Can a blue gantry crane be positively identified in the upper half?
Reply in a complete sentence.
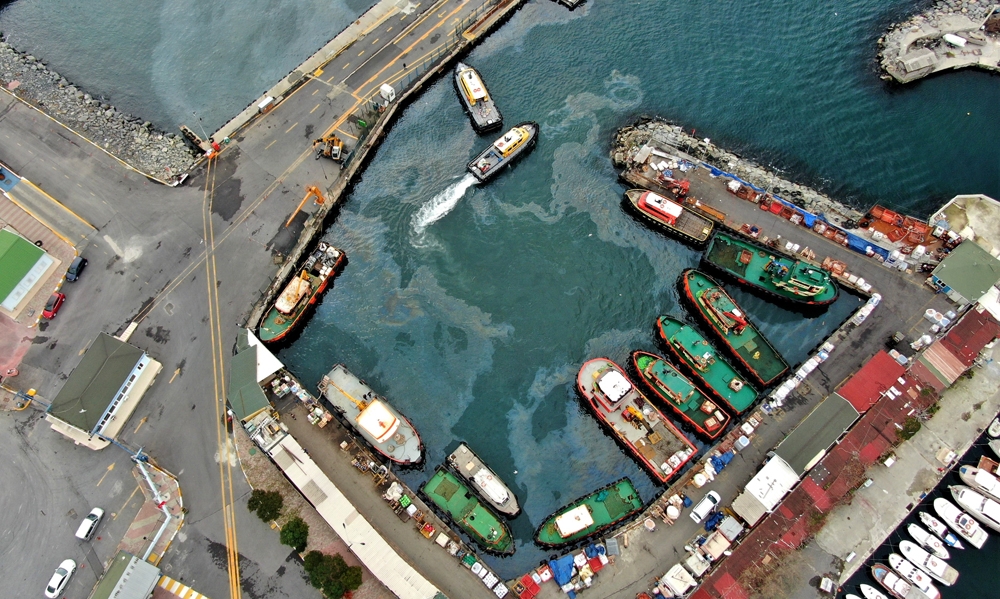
No, I can find no blue gantry crane in the upper half.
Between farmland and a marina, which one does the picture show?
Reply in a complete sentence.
It's a marina.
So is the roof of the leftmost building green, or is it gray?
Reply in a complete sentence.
The roof of the leftmost building looks green in the image.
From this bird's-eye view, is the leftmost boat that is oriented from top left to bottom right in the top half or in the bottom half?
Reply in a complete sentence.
You can find the leftmost boat that is oriented from top left to bottom right in the bottom half.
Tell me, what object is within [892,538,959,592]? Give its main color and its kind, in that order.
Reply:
white boat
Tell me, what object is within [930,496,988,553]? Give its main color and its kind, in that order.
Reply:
white boat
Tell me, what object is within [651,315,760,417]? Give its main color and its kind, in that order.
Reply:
green boat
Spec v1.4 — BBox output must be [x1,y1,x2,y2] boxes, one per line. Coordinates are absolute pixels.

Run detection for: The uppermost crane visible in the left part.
[286,183,328,226]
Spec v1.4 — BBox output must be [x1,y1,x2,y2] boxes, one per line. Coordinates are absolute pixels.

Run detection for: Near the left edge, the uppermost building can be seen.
[0,229,61,321]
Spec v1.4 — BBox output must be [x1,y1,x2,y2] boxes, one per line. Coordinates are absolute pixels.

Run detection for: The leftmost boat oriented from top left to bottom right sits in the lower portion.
[310,367,426,468]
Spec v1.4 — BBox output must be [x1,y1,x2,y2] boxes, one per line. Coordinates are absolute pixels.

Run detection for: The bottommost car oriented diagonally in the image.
[42,558,79,599]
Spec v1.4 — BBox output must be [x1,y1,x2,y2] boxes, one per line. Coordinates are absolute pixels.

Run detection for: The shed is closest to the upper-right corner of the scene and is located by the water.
[895,48,938,81]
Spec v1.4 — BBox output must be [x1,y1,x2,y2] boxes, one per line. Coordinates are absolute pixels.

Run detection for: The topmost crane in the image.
[652,157,698,194]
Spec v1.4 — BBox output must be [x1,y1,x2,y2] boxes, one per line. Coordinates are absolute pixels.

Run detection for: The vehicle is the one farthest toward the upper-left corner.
[63,253,91,283]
